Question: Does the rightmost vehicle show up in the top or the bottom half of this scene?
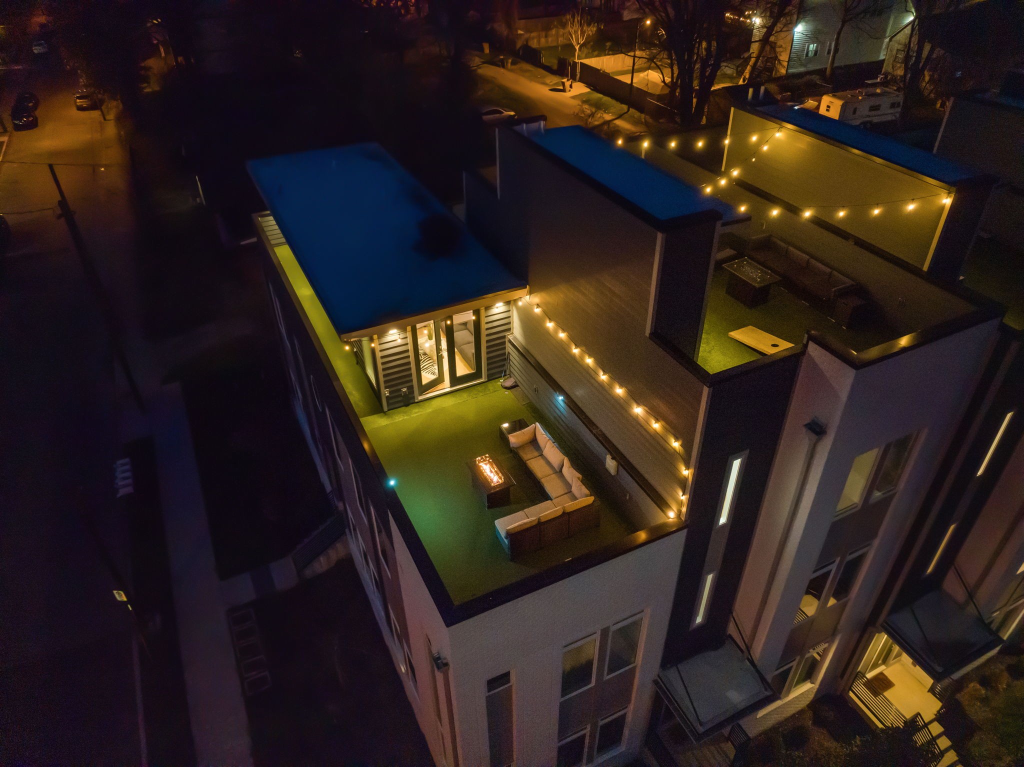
top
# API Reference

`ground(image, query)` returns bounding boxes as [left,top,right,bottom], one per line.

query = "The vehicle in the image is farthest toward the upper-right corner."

[818,91,897,125]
